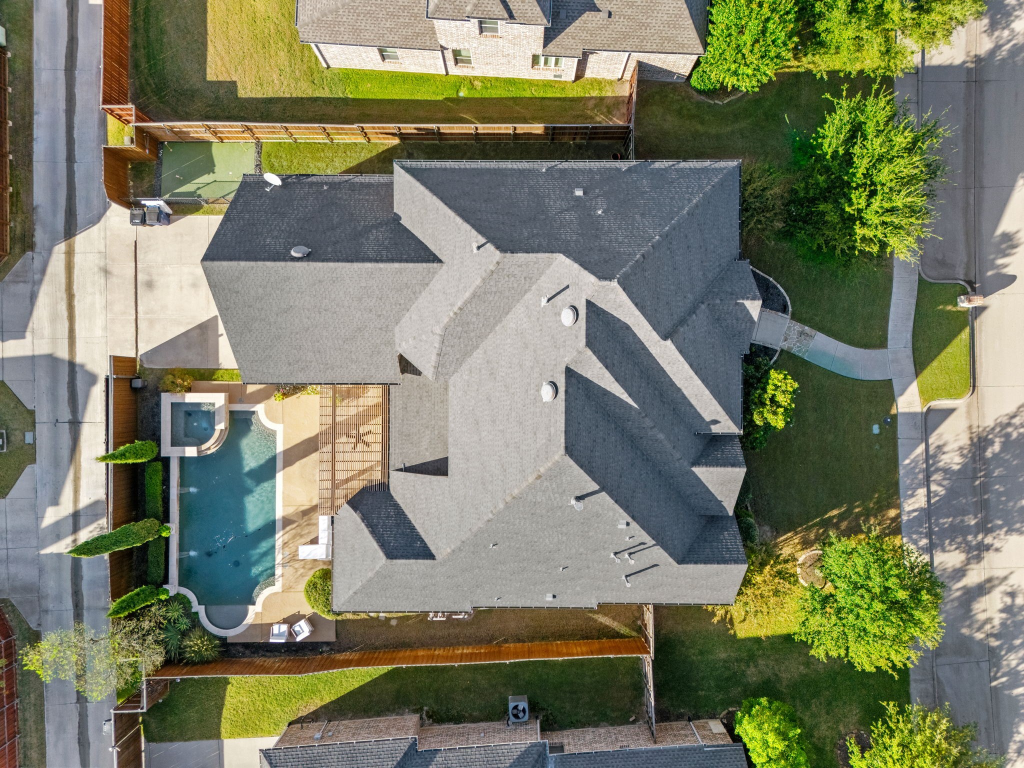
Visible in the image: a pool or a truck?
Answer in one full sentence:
The image shows a pool.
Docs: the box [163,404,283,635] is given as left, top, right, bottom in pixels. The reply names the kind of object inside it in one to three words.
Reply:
swimming pool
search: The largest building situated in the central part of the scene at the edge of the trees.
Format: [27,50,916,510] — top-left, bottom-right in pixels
[200,157,761,619]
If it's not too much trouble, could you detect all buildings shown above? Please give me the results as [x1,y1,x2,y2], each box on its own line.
[255,715,745,768]
[200,157,761,619]
[293,0,712,89]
